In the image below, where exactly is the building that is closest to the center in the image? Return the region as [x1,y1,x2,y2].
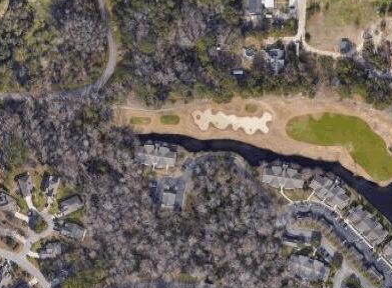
[137,143,180,169]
